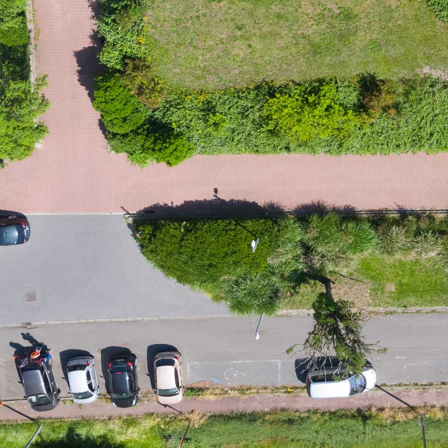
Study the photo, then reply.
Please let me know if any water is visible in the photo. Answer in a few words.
No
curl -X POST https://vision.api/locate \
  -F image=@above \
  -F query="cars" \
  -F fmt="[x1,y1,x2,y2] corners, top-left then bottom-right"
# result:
[304,357,375,398]
[61,352,98,411]
[13,351,56,415]
[149,350,183,409]
[102,354,138,415]
[0,214,28,249]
